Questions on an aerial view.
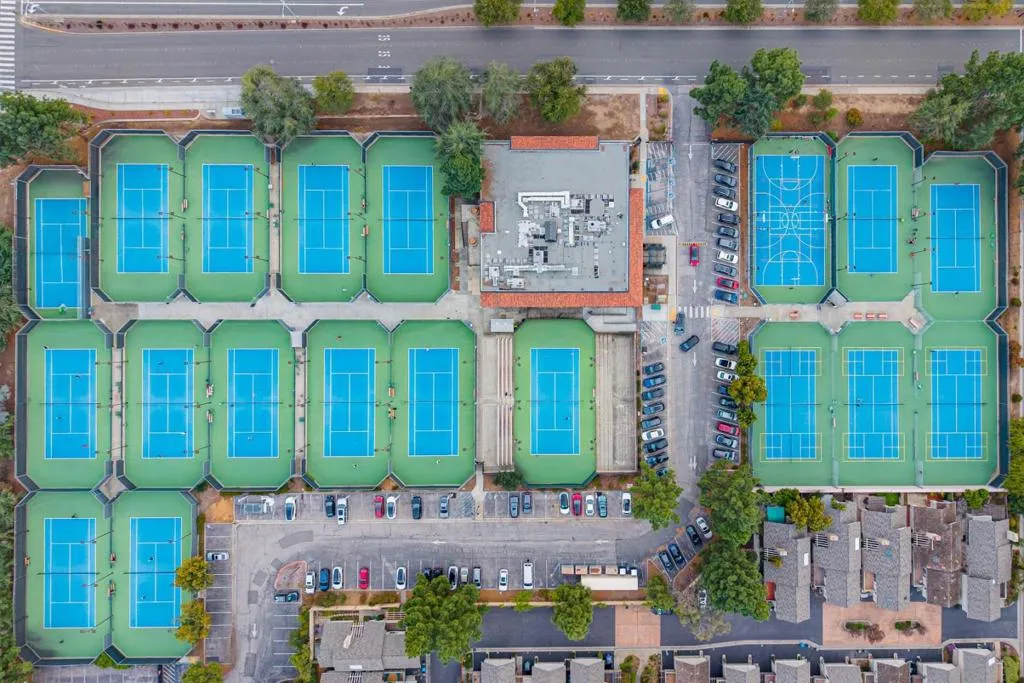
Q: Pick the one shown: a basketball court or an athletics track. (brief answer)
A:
basketball court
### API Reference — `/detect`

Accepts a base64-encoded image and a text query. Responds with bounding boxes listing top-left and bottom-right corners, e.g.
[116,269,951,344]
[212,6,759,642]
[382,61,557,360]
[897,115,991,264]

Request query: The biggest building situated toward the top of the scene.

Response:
[479,136,643,307]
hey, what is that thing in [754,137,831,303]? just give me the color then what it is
blue basketball court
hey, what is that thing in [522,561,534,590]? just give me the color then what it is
white vehicle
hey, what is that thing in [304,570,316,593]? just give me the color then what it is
white vehicle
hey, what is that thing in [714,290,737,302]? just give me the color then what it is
blue vehicle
